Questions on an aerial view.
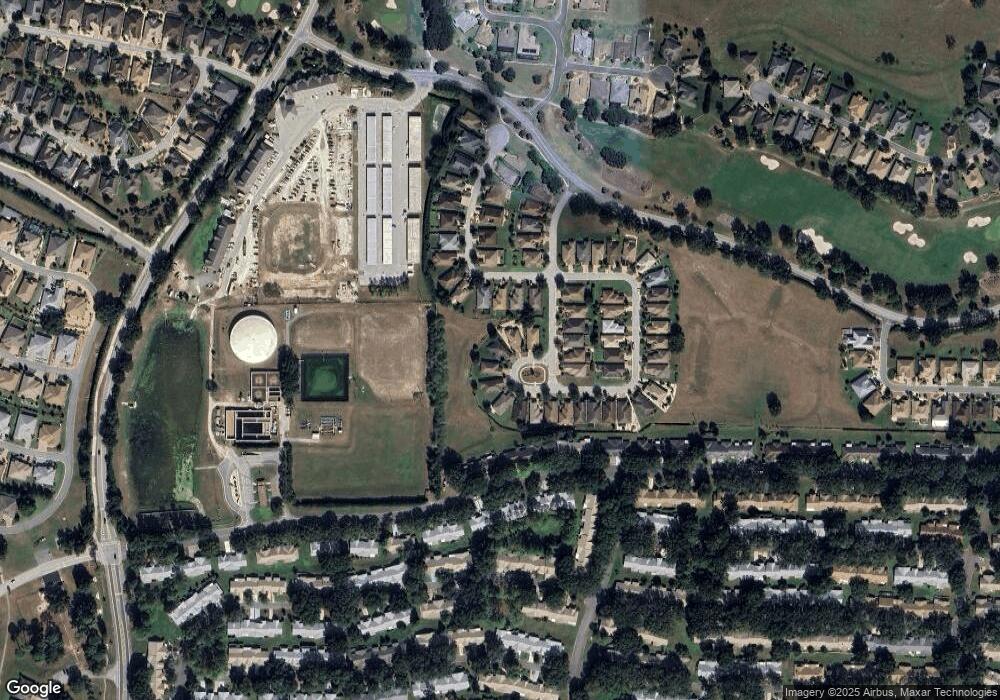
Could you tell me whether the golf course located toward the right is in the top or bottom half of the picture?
top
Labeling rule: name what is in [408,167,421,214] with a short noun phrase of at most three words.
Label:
building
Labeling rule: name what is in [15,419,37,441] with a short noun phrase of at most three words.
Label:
house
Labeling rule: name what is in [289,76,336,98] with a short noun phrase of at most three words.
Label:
building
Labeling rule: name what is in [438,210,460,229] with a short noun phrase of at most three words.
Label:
house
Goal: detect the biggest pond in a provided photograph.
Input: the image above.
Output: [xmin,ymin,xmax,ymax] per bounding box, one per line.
[301,351,350,401]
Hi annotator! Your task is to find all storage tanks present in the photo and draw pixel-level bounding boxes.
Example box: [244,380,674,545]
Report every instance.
[229,315,276,363]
